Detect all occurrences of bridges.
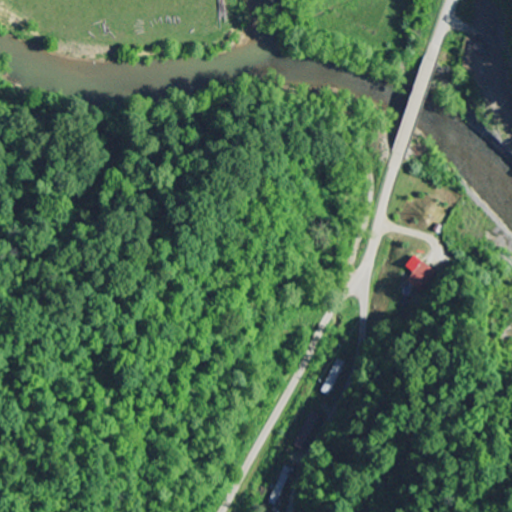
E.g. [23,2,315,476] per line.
[388,44,442,164]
